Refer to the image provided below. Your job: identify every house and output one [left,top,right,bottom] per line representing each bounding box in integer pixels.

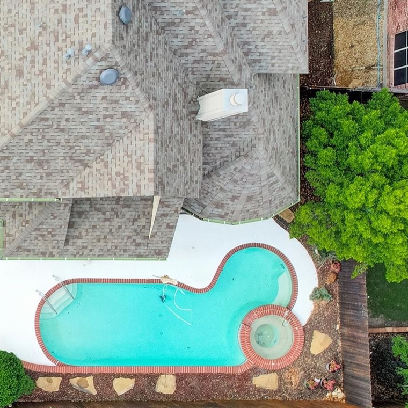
[385,0,408,88]
[0,0,335,262]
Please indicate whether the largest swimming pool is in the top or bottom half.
bottom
